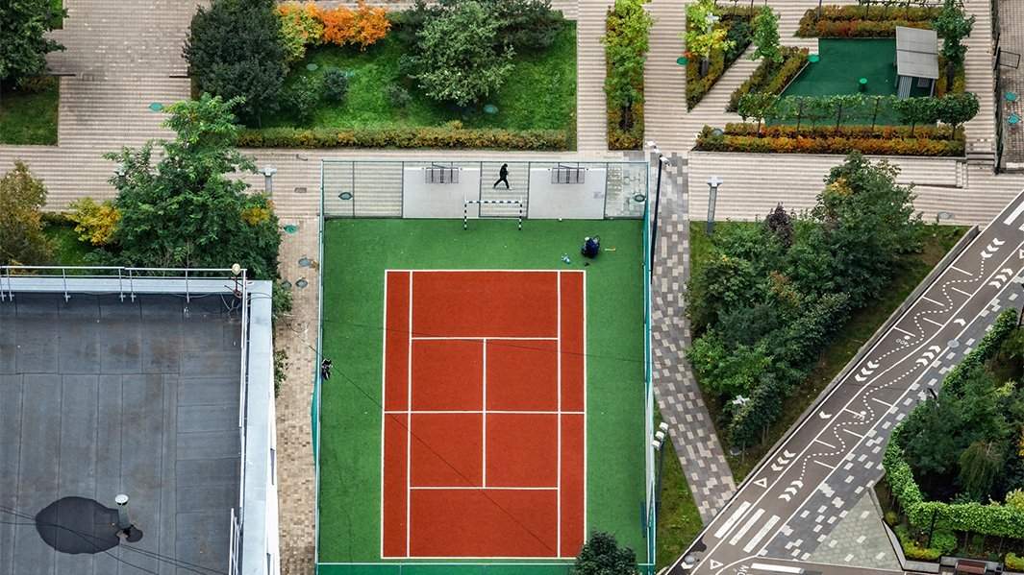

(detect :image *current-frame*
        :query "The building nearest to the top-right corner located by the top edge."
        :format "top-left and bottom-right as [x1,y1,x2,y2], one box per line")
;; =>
[895,26,939,108]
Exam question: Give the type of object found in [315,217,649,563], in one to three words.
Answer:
tennis court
